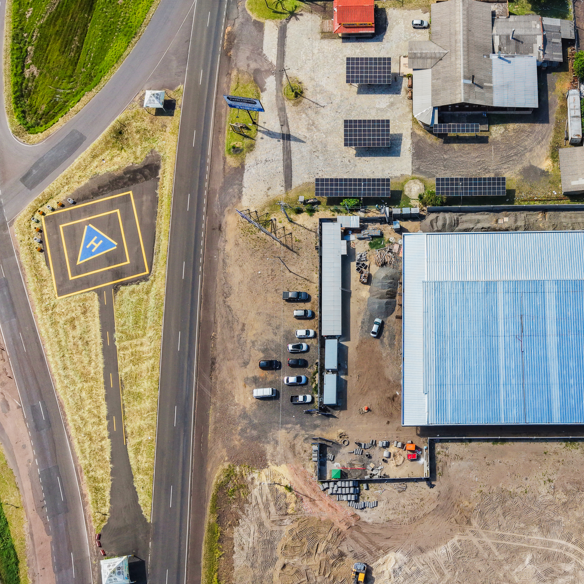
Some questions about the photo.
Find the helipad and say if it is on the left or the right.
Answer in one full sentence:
It is on the left.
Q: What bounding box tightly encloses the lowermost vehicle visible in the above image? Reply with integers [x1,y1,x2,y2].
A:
[350,557,369,584]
